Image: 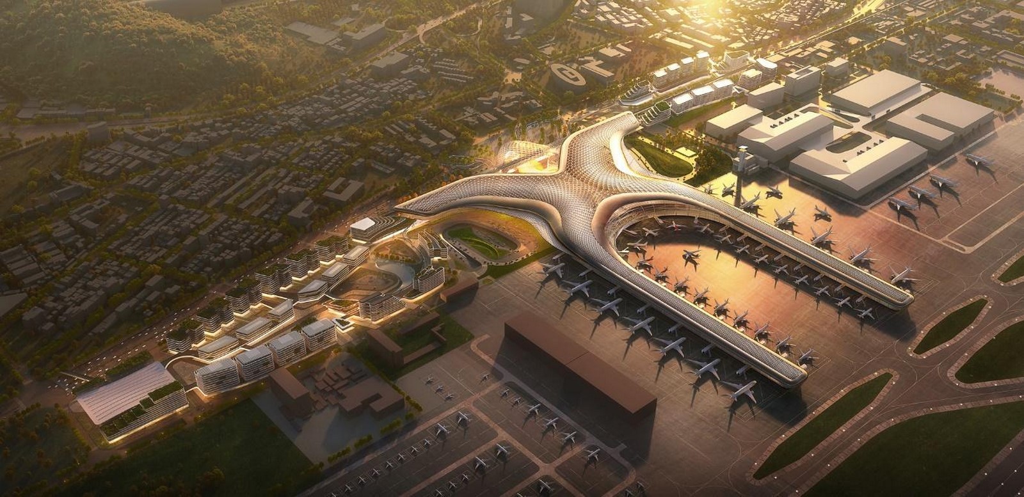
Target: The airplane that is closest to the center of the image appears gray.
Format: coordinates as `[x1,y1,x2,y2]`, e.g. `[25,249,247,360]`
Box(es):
[541,262,566,276]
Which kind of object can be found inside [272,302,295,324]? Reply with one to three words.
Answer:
building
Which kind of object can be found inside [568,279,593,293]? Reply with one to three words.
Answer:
airplane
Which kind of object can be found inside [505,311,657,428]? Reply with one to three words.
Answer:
hangar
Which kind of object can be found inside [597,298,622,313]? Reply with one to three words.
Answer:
airplane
